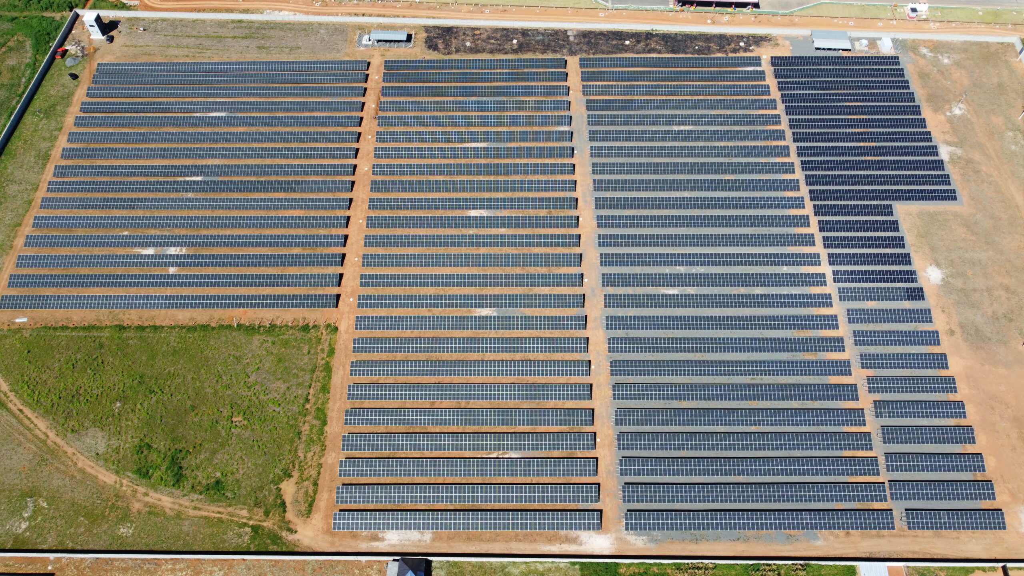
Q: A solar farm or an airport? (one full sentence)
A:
This looks like a solar farm.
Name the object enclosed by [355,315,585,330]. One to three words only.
solar array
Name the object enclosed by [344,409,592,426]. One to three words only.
solar array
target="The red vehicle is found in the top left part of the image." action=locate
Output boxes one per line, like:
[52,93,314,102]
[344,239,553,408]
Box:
[55,44,68,58]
